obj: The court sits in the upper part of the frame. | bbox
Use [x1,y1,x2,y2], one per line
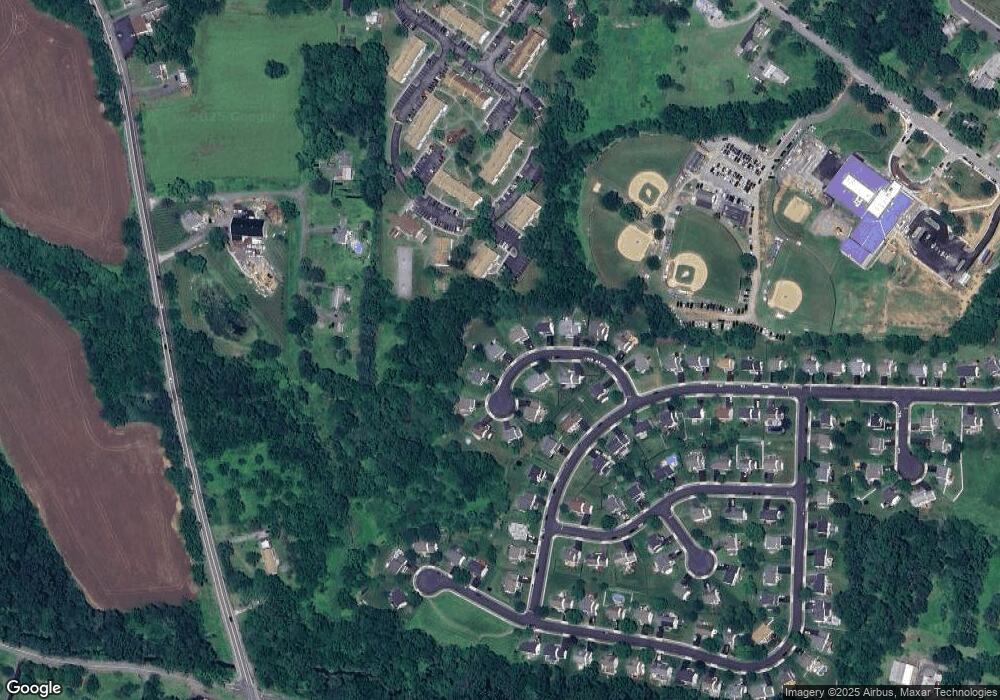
[396,247,412,298]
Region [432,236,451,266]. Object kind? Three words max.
building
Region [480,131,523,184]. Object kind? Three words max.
building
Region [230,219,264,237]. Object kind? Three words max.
barn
